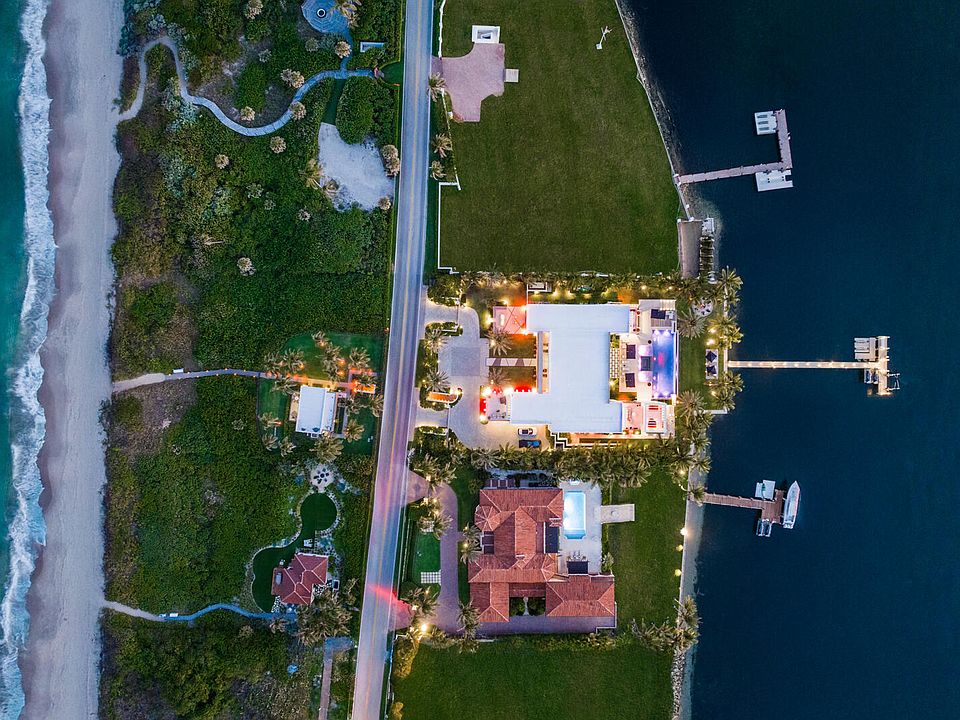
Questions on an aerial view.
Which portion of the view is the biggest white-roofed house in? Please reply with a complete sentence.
The biggest white-roofed house sits in the center section of the image.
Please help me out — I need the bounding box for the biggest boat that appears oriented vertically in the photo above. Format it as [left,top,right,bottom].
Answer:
[782,481,798,530]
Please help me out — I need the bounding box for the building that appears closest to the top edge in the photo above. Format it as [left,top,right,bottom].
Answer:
[472,25,500,48]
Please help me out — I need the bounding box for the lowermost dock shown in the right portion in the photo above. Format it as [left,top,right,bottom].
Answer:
[701,488,785,524]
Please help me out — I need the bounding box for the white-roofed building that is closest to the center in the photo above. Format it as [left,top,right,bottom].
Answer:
[483,277,631,448]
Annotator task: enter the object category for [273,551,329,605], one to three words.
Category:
building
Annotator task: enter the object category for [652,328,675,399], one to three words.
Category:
swimming pool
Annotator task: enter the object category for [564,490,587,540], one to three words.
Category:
swimming pool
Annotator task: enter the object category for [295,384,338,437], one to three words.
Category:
house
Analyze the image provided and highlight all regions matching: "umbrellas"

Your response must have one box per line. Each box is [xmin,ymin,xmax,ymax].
[705,351,717,363]
[651,309,666,319]
[626,344,636,359]
[625,373,635,387]
[707,366,716,375]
